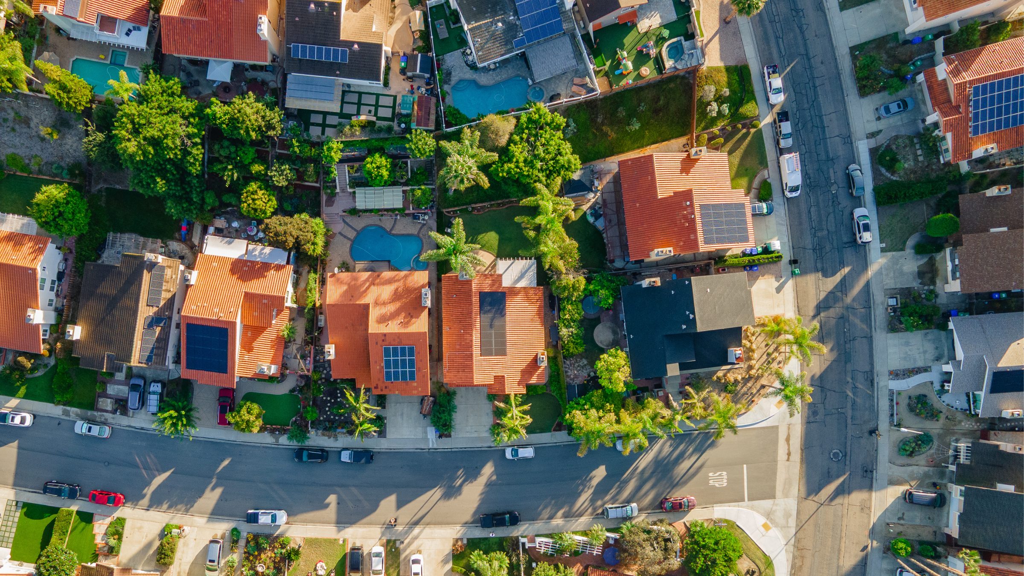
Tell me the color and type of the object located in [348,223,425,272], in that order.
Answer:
blue swimming pool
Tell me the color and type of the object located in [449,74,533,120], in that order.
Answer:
blue swimming pool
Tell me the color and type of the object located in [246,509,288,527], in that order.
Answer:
white vehicle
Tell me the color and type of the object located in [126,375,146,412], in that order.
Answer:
blue car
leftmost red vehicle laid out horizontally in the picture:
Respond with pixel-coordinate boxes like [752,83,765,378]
[88,489,126,507]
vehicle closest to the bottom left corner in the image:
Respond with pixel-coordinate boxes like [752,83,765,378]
[42,480,82,499]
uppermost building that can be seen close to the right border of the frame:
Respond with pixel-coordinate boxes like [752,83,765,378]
[899,0,998,40]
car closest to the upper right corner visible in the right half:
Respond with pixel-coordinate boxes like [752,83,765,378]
[877,97,915,118]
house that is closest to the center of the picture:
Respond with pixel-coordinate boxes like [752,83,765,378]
[442,273,547,394]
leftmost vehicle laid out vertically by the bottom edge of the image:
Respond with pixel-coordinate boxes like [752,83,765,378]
[203,539,223,576]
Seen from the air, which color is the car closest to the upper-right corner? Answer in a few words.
blue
